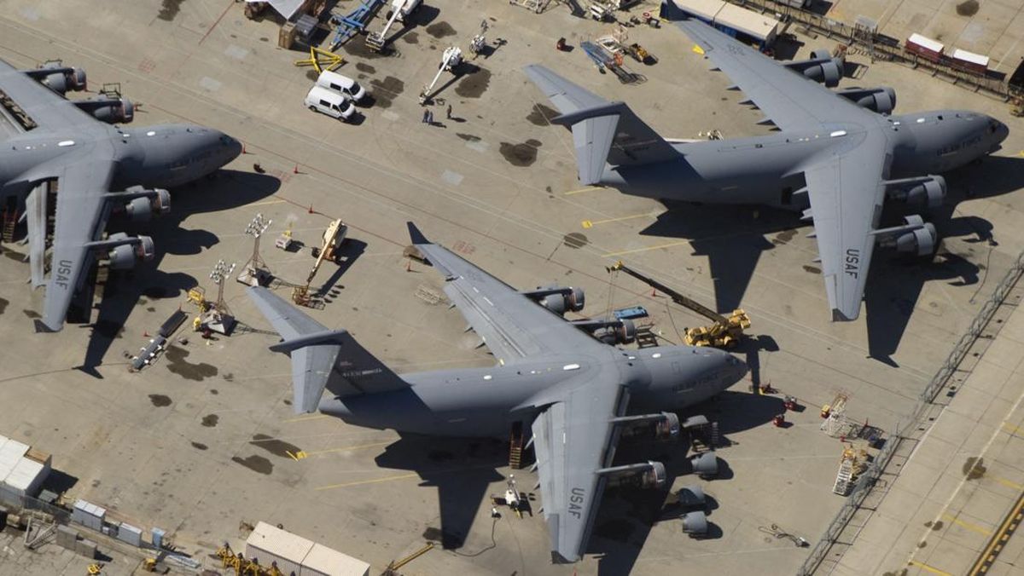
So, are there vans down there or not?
Yes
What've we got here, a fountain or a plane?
plane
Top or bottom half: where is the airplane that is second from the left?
bottom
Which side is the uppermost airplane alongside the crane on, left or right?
right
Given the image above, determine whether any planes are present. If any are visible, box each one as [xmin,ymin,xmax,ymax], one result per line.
[0,58,244,334]
[241,222,749,565]
[519,0,1007,323]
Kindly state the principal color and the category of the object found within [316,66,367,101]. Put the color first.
white van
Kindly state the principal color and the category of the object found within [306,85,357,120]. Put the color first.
white van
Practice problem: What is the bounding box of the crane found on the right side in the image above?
[608,259,752,353]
